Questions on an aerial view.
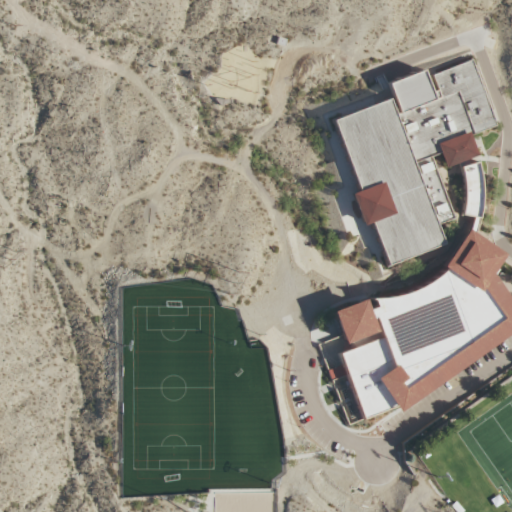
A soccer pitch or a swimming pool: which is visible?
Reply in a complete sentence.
It is a soccer pitch that can be seen here.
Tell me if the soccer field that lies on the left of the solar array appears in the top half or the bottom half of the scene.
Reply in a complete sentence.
Seen from above, the soccer field that lies on the left of the solar array lies in the bottom half of the view.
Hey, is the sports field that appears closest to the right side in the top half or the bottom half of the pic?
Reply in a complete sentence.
The sports field that appears closest to the right side sits in the bottom half of the picture.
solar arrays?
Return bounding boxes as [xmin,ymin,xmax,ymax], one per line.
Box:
[390,296,464,354]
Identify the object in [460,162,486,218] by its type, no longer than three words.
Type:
building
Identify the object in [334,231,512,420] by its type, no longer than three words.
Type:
building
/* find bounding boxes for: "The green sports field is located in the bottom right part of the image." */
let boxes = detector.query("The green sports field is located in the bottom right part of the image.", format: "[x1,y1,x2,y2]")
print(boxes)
[459,392,512,512]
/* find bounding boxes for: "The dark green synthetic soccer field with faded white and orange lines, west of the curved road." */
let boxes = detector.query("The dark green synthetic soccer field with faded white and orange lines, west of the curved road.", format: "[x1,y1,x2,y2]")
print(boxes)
[124,278,284,496]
